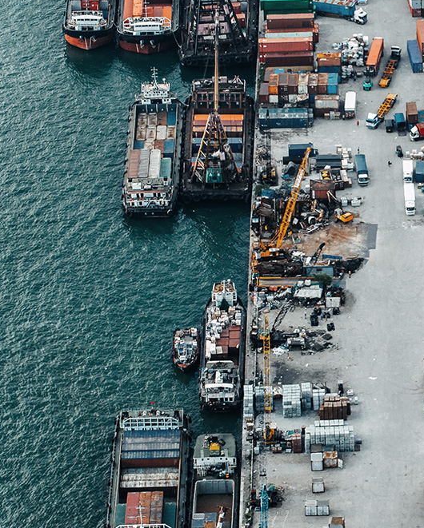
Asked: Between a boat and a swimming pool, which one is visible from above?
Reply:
boat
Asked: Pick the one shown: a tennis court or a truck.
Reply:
truck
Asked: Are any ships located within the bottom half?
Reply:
Yes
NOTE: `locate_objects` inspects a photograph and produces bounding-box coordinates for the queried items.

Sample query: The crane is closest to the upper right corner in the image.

[256,144,312,258]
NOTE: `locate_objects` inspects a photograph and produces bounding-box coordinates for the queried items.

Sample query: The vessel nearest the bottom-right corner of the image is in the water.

[190,433,241,528]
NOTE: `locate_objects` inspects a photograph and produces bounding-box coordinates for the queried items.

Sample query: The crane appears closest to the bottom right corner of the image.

[255,483,273,528]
